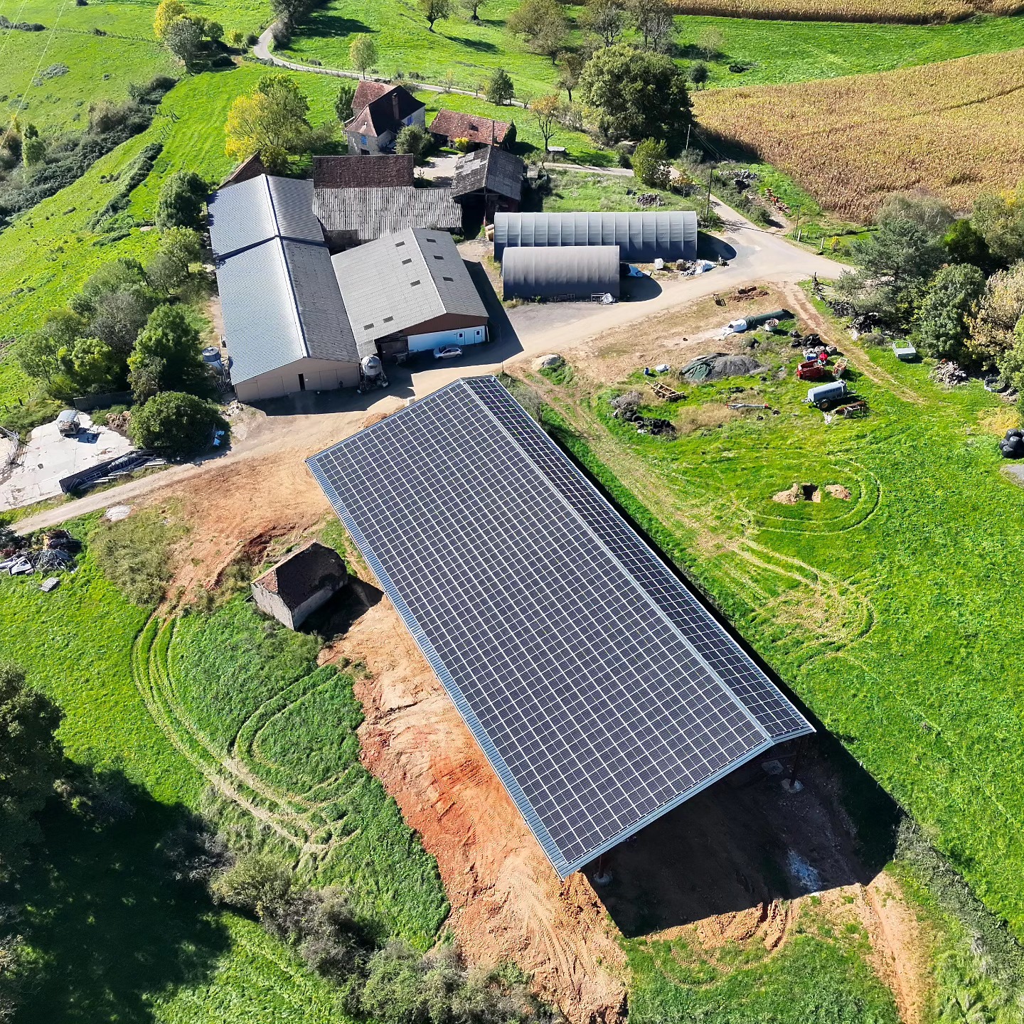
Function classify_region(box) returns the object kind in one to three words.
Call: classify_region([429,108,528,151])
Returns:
shed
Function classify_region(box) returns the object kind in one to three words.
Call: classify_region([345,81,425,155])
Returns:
house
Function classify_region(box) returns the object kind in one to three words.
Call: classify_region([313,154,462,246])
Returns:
barn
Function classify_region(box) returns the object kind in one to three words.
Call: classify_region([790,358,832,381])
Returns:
trailer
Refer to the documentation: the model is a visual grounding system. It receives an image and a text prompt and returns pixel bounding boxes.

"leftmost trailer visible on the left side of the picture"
[45,402,86,440]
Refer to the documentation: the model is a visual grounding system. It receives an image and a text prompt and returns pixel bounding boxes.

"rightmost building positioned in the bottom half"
[305,375,817,882]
